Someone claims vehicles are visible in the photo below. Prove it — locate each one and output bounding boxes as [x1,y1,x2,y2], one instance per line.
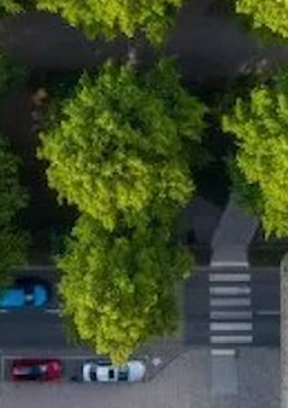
[13,355,65,382]
[0,279,47,307]
[86,355,146,384]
